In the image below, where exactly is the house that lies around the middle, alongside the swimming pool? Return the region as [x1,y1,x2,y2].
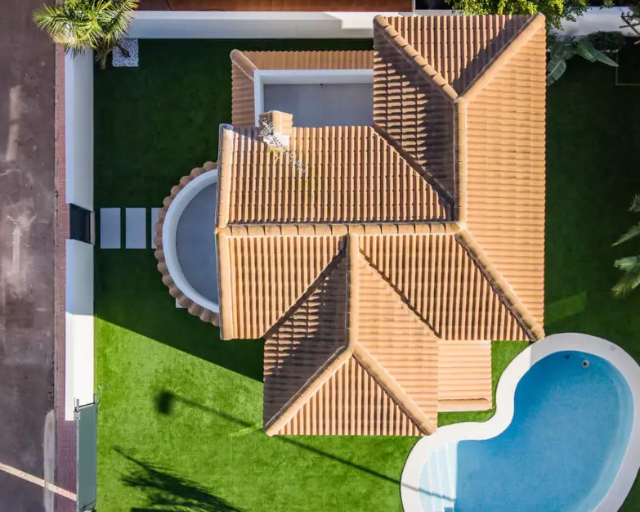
[152,9,553,443]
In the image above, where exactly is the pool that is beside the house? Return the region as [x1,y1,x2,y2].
[400,333,640,512]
